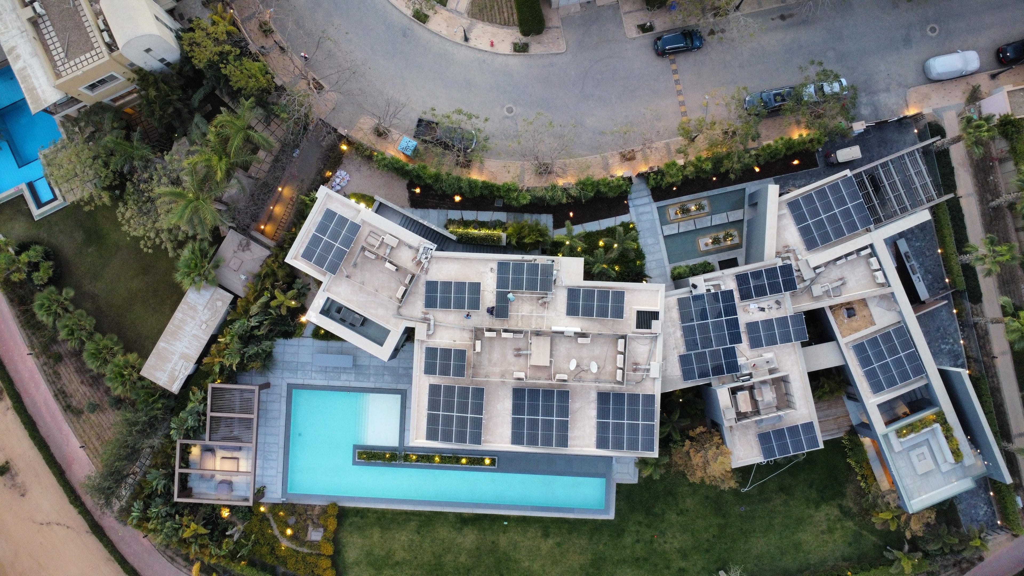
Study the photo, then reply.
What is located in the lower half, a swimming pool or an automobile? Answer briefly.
swimming pool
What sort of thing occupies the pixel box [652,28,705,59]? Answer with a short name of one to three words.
car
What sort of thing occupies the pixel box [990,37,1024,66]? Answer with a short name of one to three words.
car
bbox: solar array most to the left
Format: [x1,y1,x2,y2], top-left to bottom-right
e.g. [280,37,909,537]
[301,208,362,275]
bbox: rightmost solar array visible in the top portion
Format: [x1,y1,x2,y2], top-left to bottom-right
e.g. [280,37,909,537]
[787,176,874,252]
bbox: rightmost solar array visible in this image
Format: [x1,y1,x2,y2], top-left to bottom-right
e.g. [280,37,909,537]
[852,326,922,395]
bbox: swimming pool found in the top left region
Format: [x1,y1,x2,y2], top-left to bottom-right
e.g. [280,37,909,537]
[0,68,73,221]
